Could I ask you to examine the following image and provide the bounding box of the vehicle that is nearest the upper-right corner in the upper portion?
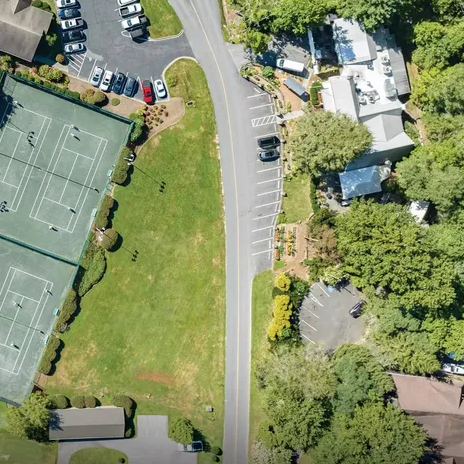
[276,59,307,73]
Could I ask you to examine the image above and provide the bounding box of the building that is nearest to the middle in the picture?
[334,166,382,198]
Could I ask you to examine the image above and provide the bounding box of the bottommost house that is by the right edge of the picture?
[406,412,464,464]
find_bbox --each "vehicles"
[175,439,200,451]
[59,9,79,19]
[91,67,103,86]
[154,79,166,99]
[64,43,83,53]
[346,302,364,317]
[60,17,84,30]
[117,0,135,6]
[100,70,112,90]
[56,0,76,9]
[122,15,147,29]
[118,3,142,18]
[125,27,149,41]
[124,77,136,97]
[442,362,464,374]
[112,73,124,93]
[258,150,279,160]
[61,30,85,43]
[257,136,278,146]
[276,59,307,73]
[141,80,153,104]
